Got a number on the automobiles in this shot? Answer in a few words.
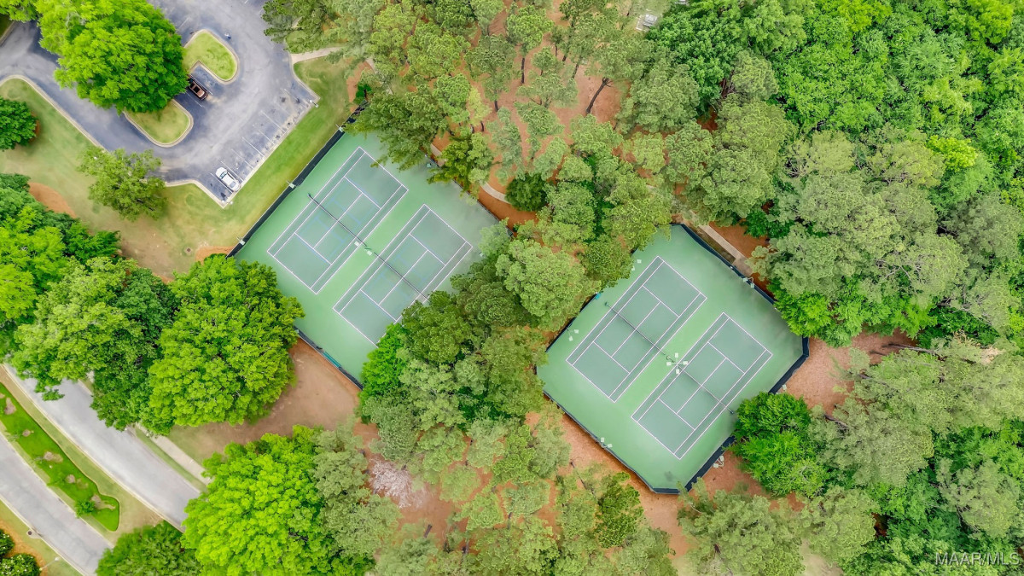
2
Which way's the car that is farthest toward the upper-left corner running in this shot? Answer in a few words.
at an angle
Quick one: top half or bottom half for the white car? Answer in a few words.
top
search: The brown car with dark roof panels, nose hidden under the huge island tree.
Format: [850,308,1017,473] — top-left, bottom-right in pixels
[185,75,212,101]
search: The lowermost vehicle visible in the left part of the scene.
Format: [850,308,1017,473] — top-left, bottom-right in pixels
[217,167,242,193]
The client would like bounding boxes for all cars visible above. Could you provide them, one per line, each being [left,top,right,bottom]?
[217,167,242,193]
[185,75,212,101]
